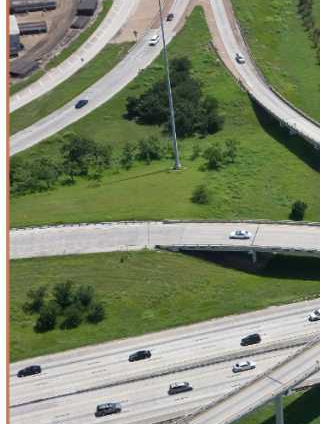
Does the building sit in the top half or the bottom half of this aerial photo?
top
